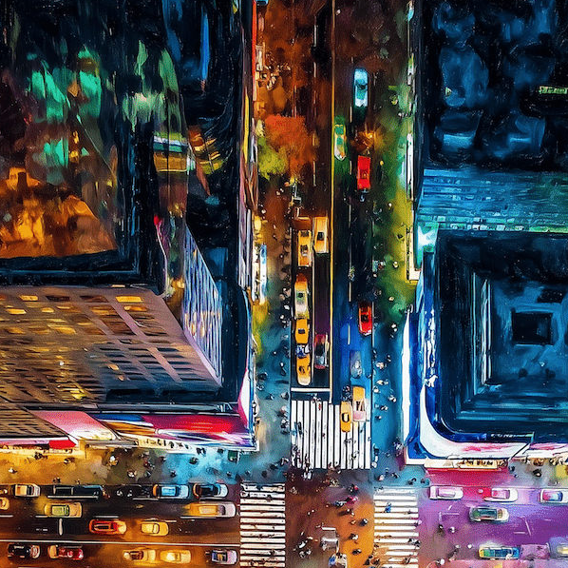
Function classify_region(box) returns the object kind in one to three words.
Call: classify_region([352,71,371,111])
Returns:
car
